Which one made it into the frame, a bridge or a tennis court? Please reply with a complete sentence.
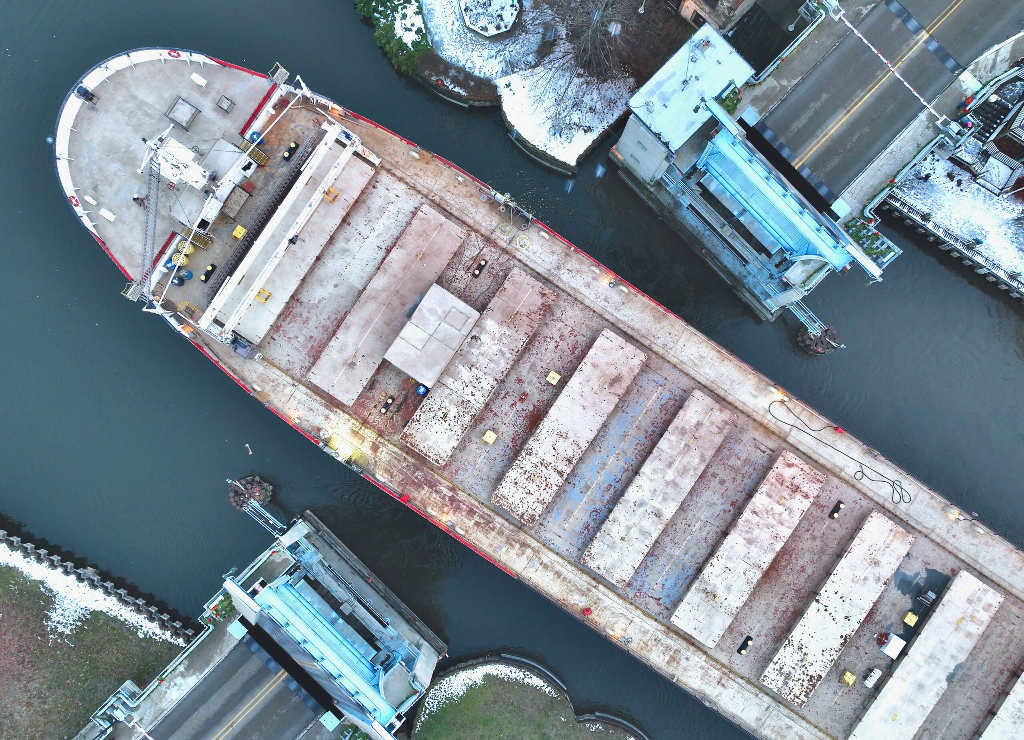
There is a bridge in the scene.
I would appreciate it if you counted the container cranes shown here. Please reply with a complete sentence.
Altogether the scene contains 1 container crane.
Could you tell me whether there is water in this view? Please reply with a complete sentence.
Yes, the picture does contain water.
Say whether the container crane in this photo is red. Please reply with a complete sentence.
No, the container crane is actually white.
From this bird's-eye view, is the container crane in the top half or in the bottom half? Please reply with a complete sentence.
The container crane is in the top half of the image.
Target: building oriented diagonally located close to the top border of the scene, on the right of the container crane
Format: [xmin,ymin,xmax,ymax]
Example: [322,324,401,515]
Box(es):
[599,22,756,183]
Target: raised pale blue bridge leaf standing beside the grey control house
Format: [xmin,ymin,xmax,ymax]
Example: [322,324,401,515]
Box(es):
[616,102,883,322]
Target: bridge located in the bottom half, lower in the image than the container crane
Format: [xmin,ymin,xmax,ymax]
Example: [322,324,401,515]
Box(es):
[220,508,451,740]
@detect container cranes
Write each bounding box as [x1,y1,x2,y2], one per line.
[175,106,385,363]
